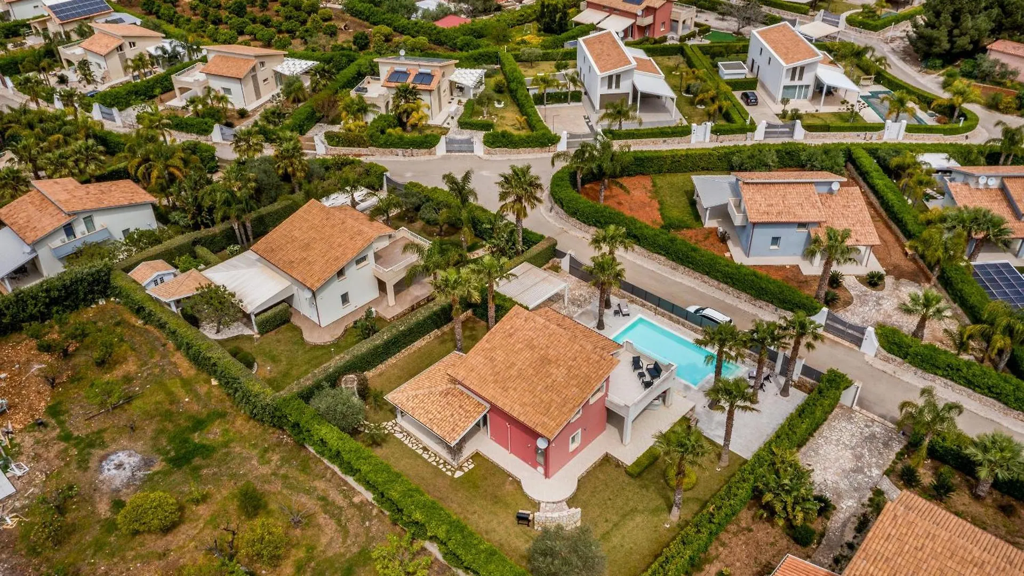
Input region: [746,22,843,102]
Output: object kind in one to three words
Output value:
house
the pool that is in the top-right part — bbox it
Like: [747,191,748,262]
[861,92,927,124]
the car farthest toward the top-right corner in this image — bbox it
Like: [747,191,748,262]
[740,93,761,106]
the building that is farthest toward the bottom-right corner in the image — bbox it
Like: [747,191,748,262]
[848,486,1024,576]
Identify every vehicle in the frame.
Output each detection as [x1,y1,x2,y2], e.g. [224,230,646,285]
[740,93,761,106]
[691,304,745,329]
[78,88,107,99]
